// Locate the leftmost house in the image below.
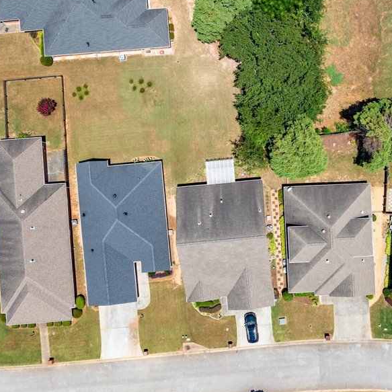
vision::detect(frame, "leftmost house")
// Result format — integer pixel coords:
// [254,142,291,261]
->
[0,137,78,326]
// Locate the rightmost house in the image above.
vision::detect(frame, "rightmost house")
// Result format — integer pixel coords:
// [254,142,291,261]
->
[283,183,375,296]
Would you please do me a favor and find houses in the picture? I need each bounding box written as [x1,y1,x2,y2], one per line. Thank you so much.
[76,160,171,306]
[283,183,375,296]
[0,137,78,326]
[0,0,170,58]
[176,180,274,310]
